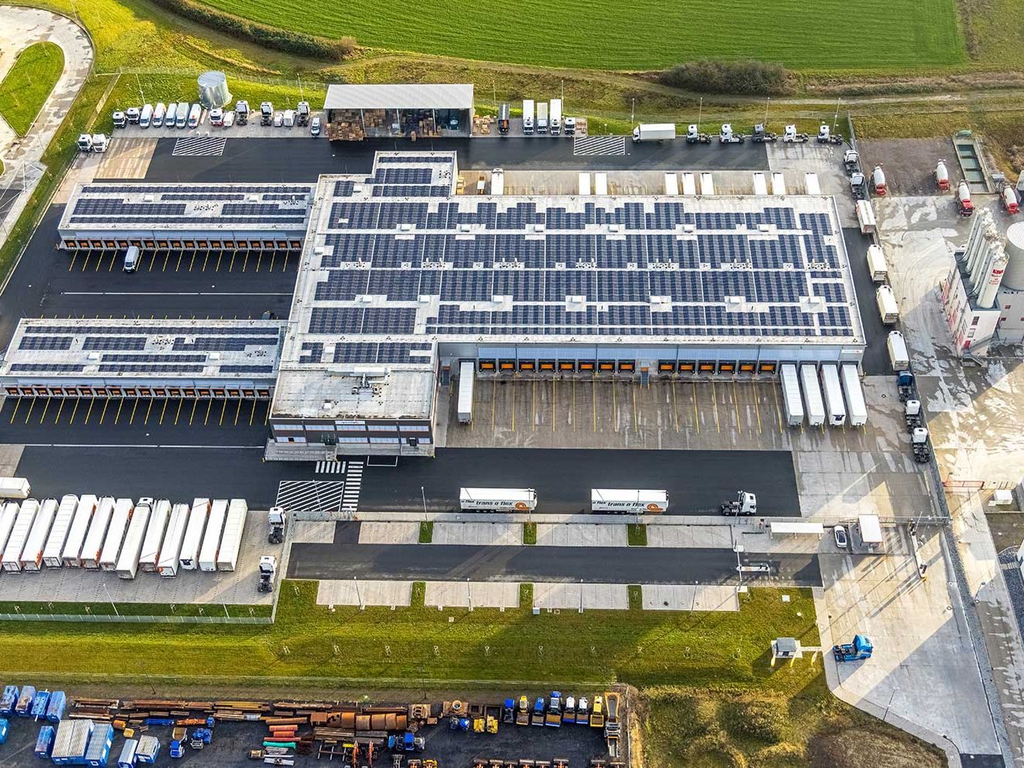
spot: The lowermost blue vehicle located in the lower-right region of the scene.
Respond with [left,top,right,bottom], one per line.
[836,635,877,660]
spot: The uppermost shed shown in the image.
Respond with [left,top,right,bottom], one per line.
[322,82,475,136]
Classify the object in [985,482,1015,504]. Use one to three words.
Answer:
building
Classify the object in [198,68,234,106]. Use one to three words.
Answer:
water tank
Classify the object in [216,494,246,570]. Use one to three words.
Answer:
trailer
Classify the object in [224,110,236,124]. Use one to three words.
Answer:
vehicle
